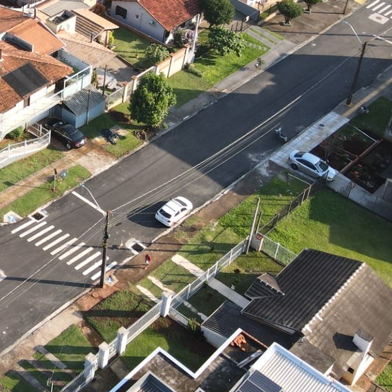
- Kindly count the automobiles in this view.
3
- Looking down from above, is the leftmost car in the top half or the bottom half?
top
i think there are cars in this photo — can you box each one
[152,197,195,228]
[47,117,89,144]
[288,149,337,180]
